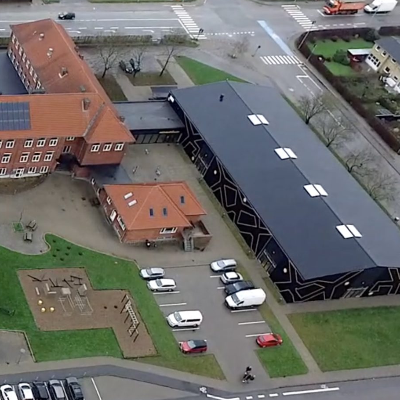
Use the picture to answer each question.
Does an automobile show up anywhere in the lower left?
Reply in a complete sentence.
Yes, in the lower left there is an automobile.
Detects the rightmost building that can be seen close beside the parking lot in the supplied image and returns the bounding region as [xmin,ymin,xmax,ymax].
[164,80,400,302]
